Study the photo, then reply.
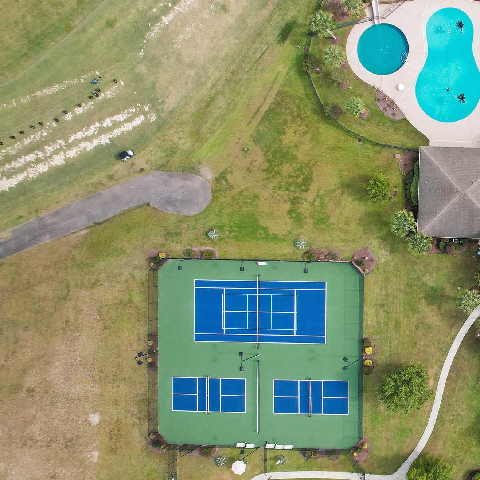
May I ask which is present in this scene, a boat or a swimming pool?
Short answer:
swimming pool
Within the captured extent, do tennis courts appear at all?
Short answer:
Yes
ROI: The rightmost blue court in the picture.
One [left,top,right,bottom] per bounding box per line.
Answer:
[273,378,349,418]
